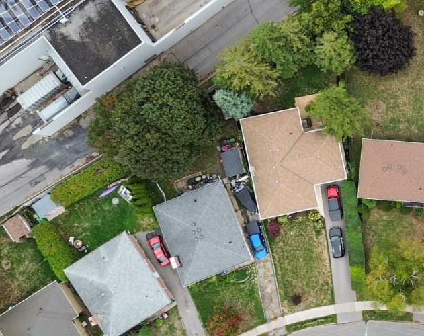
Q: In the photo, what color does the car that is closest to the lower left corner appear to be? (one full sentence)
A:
The color of the car that is closest to the lower left corner is red.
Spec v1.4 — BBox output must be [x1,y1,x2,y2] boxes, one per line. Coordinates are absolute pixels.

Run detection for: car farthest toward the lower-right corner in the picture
[327,227,345,259]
